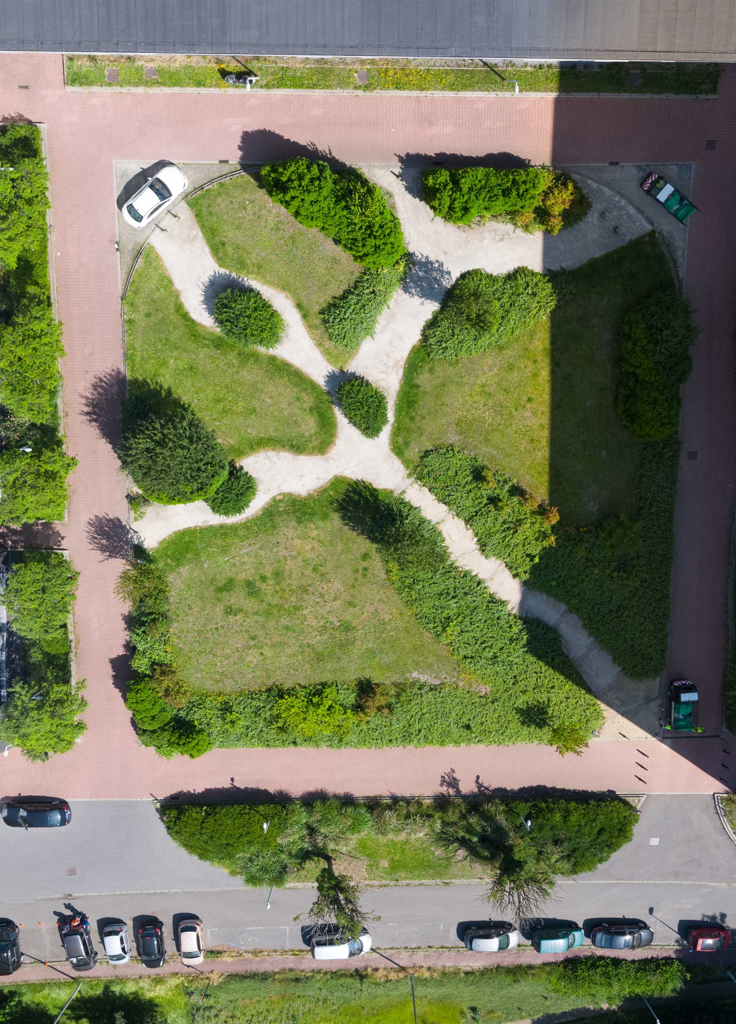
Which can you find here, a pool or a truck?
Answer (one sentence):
The one in the frame is a truck.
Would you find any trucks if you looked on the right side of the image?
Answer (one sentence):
Yes, a truck shows up on the right side of the image.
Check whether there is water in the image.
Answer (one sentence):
No, no water is visible.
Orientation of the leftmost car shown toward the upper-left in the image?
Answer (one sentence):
From this overhead view, the leftmost car shown toward the upper-left appears to run at an angle.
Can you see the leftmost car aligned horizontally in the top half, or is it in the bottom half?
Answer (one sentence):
Seen from above, the leftmost car aligned horizontally lies in the bottom half of the view.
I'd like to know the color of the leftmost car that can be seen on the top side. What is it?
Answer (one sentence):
From above, the leftmost car that can be seen on the top side appears white.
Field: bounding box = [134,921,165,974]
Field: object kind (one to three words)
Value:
car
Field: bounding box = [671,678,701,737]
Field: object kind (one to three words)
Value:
truck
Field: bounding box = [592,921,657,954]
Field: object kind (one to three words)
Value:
car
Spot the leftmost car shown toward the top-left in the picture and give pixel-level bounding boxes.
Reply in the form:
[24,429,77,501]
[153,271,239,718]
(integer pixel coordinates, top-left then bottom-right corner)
[119,162,190,231]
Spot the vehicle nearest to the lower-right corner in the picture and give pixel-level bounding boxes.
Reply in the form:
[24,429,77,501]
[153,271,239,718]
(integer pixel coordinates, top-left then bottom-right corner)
[689,923,736,955]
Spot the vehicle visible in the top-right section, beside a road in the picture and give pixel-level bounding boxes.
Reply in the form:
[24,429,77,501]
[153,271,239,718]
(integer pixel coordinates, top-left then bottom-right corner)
[645,171,707,223]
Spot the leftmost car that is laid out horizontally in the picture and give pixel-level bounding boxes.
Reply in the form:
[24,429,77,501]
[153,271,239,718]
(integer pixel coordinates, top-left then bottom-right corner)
[0,800,69,833]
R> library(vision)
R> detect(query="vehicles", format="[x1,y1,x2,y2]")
[645,171,707,223]
[0,800,69,833]
[592,921,657,954]
[134,921,165,974]
[98,920,130,971]
[119,162,190,231]
[56,919,94,974]
[174,918,204,969]
[465,922,520,954]
[0,921,19,977]
[532,920,586,955]
[689,923,736,955]
[309,924,371,960]
[671,678,701,737]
